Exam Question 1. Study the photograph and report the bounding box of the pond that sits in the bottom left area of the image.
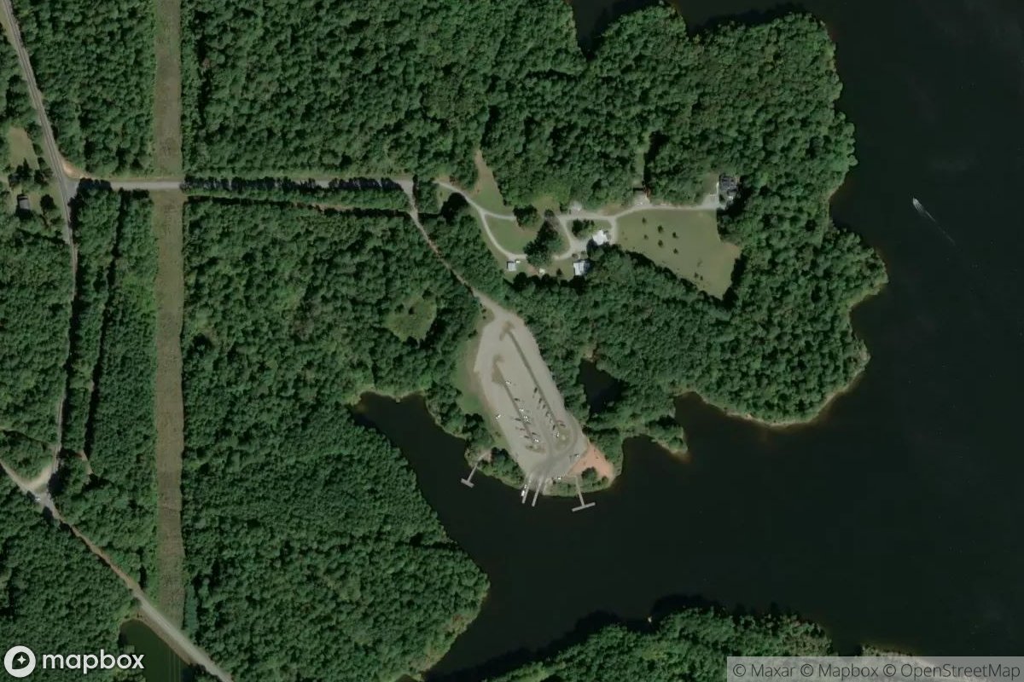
[118,619,193,682]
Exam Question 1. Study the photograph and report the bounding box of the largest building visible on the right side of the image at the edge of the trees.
[718,173,739,200]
